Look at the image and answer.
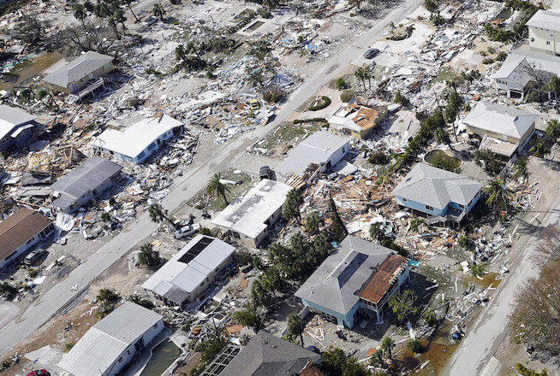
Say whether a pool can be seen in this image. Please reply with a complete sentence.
Yes, the photo shows a pool.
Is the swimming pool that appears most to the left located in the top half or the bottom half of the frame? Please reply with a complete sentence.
The swimming pool that appears most to the left sits in the bottom half of the picture.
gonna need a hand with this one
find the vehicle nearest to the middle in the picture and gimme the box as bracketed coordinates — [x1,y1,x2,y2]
[259,163,275,179]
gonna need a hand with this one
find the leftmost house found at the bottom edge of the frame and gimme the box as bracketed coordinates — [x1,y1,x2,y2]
[58,304,162,376]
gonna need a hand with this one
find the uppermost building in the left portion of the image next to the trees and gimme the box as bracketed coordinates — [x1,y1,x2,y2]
[40,51,115,110]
